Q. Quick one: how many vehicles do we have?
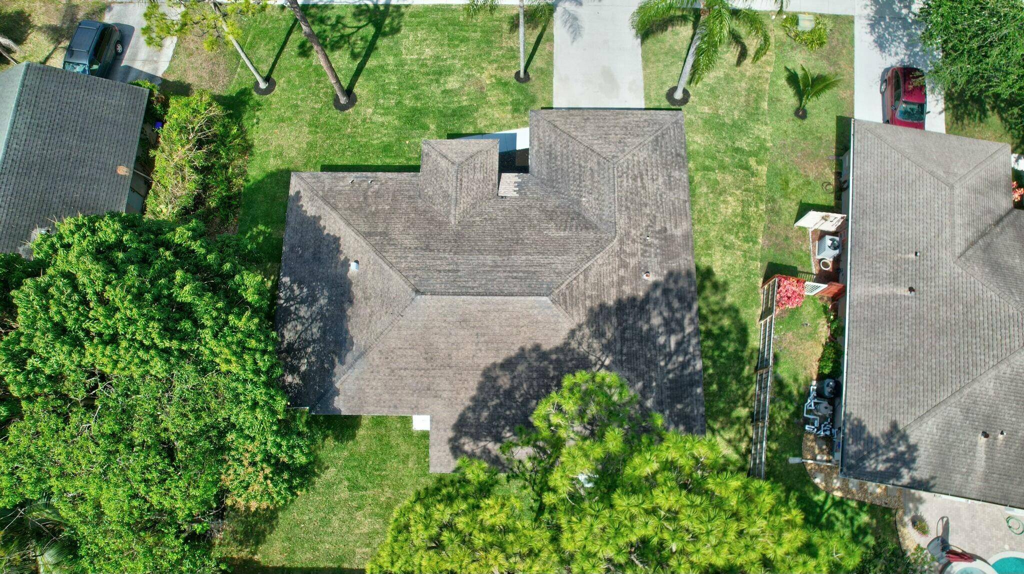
2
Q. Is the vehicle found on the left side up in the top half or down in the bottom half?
top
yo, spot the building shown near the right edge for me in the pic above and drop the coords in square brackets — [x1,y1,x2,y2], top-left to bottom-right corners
[825,118,1024,512]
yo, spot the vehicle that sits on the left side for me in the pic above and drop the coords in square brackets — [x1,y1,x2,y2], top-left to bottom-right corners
[65,15,121,78]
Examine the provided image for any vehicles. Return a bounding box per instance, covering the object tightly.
[880,64,931,129]
[65,15,121,78]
